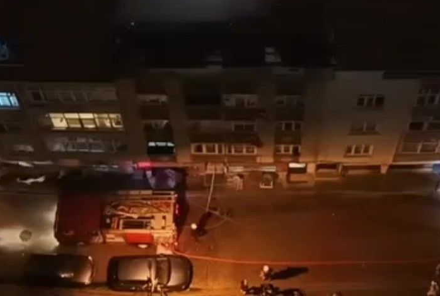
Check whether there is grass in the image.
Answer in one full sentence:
No, the scene doesn't show any grass.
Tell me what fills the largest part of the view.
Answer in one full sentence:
Most of the picture is covered by buildings.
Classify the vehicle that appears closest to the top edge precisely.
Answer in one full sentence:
I'd identify the vehicle that appears closest to the top edge as a truck.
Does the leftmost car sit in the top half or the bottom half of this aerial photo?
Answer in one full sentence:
You can find the leftmost car in the bottom half.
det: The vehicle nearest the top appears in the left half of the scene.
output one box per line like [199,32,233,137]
[56,192,189,258]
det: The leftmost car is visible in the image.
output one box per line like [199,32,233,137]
[21,251,102,295]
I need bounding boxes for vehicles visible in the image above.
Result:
[21,251,102,295]
[104,253,193,296]
[56,192,189,258]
